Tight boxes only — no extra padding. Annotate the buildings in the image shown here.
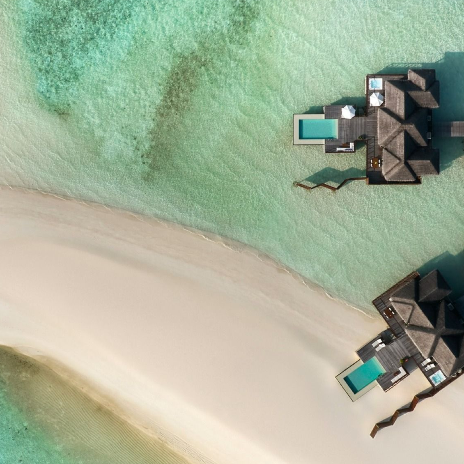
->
[370,270,464,394]
[363,69,440,184]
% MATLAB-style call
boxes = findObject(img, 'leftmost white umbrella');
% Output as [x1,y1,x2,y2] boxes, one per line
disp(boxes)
[342,105,356,119]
